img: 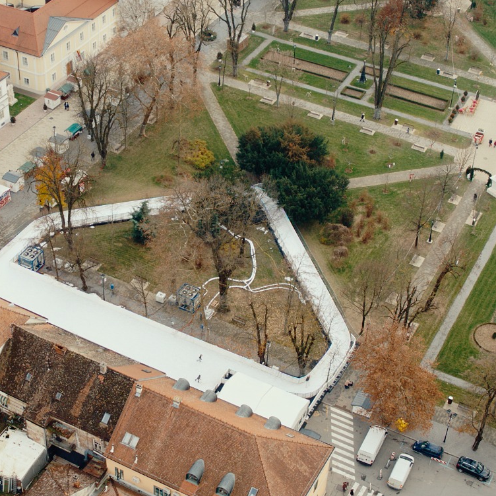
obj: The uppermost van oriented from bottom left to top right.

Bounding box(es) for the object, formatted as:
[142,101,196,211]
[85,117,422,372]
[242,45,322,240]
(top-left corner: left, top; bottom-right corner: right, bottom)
[357,424,389,463]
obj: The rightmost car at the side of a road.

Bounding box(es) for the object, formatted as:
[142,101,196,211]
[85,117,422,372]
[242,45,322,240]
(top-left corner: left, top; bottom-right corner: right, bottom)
[457,455,492,481]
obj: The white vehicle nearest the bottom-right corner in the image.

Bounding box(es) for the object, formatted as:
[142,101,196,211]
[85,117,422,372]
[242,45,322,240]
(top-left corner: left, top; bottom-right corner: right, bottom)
[389,455,415,486]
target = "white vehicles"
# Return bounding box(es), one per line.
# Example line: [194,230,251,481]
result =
[357,424,389,463]
[389,455,415,486]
